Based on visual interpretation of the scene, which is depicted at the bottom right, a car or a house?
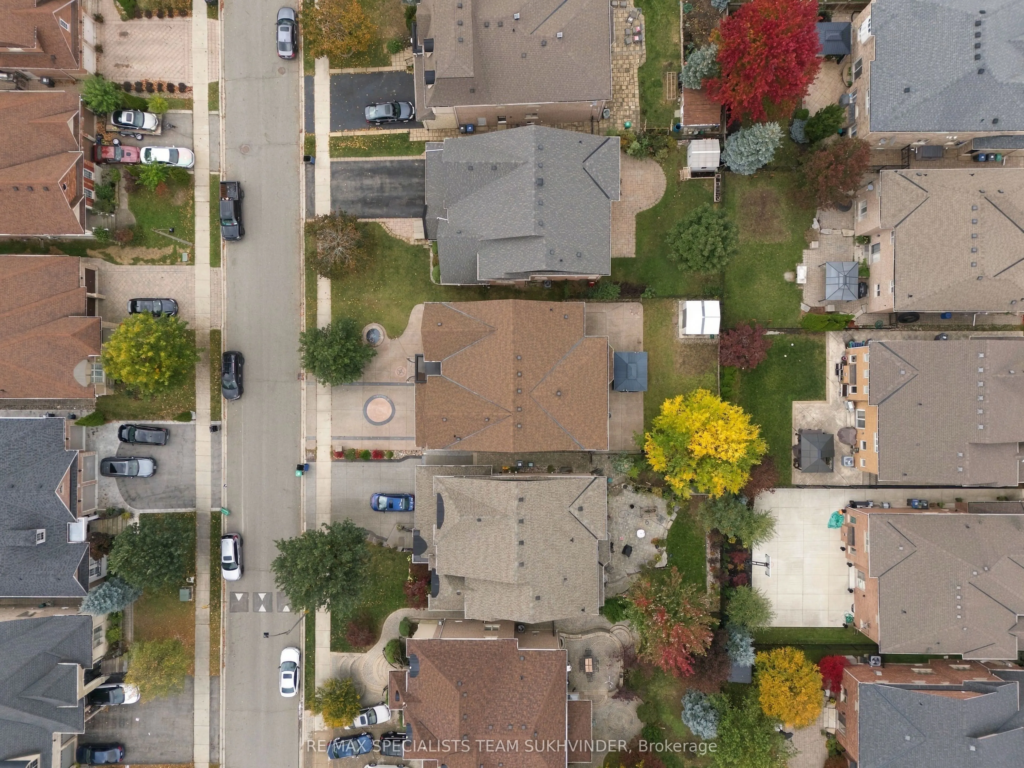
house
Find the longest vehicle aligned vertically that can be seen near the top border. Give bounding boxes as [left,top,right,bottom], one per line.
[274,8,299,61]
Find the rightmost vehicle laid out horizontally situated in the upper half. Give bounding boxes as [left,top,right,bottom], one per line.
[364,99,416,125]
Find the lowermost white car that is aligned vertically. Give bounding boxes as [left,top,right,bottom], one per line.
[277,645,302,697]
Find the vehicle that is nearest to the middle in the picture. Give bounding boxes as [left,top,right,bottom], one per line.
[371,492,415,514]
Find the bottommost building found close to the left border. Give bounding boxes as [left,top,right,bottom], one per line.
[0,608,124,768]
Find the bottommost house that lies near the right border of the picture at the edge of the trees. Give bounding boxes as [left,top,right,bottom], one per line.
[824,661,1024,768]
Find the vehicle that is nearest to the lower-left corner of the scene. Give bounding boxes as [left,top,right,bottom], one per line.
[77,739,127,767]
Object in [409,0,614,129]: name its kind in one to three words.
house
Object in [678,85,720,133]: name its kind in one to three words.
shed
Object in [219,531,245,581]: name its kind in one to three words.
car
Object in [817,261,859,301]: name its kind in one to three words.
gazebo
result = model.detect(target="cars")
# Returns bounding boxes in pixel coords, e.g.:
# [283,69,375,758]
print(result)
[277,645,302,697]
[364,99,416,125]
[118,422,172,446]
[375,730,402,758]
[274,8,299,61]
[324,729,376,760]
[345,698,396,733]
[219,351,246,400]
[93,141,142,166]
[141,144,196,169]
[77,739,127,767]
[100,455,159,479]
[88,681,140,708]
[126,295,180,318]
[110,108,162,133]
[219,531,245,581]
[371,492,415,514]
